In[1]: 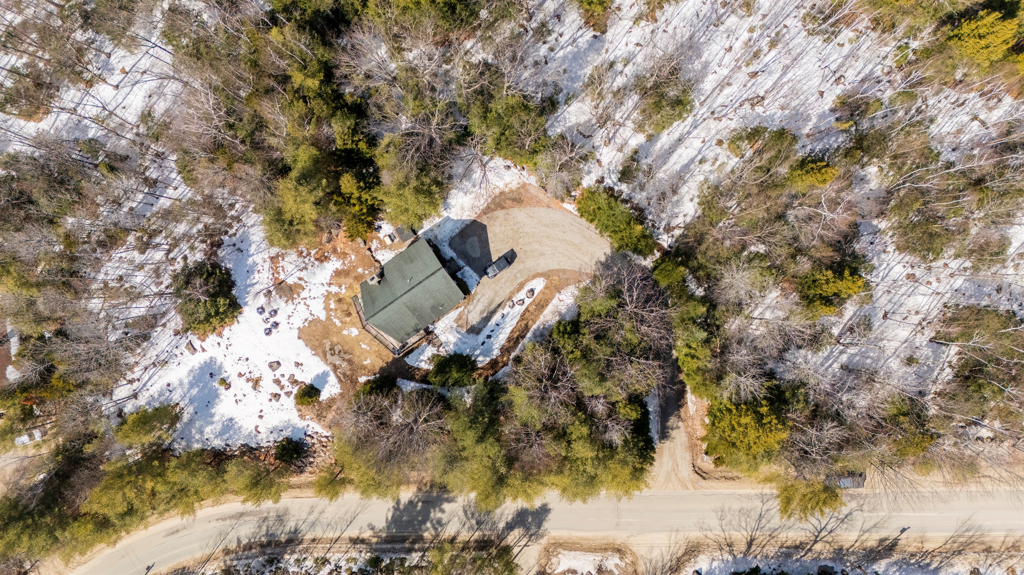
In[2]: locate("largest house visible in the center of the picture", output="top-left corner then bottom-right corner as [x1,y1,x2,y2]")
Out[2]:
[361,239,466,343]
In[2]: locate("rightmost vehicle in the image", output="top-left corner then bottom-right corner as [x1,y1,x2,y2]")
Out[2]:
[485,253,512,276]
